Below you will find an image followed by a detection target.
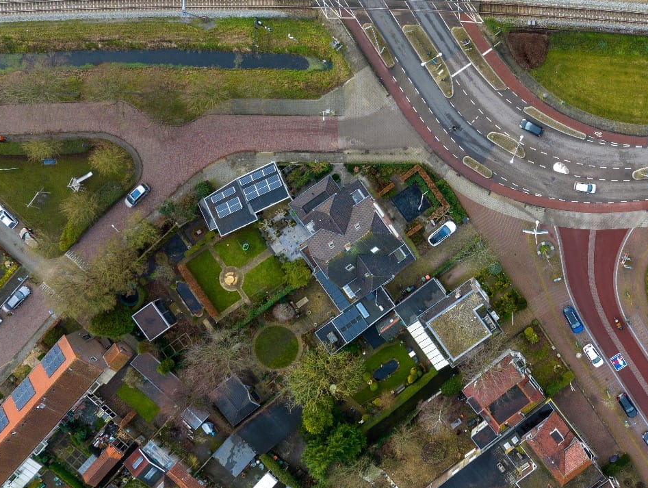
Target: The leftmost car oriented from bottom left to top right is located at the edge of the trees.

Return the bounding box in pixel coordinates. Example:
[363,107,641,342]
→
[2,286,31,311]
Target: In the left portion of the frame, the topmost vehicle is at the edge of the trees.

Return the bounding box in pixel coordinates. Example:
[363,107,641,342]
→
[125,181,151,208]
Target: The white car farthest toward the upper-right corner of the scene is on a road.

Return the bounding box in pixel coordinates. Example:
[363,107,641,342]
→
[572,181,598,195]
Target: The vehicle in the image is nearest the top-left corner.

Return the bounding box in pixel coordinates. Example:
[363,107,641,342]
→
[0,204,19,229]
